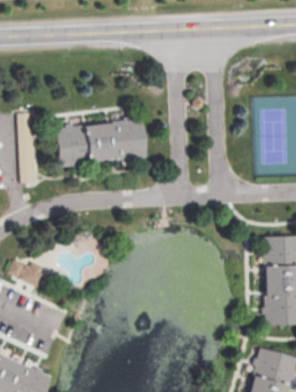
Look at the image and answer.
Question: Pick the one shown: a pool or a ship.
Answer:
pool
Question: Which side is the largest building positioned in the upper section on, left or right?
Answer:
left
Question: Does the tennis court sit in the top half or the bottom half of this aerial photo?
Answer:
top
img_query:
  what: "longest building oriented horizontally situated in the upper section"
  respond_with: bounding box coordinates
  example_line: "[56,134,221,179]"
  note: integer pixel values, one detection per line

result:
[54,120,146,170]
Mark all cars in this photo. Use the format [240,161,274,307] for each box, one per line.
[265,21,277,26]
[186,23,198,28]
[6,288,14,300]
[5,326,13,337]
[25,299,34,311]
[34,339,42,350]
[0,322,6,333]
[32,302,40,314]
[26,334,34,346]
[18,295,26,307]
